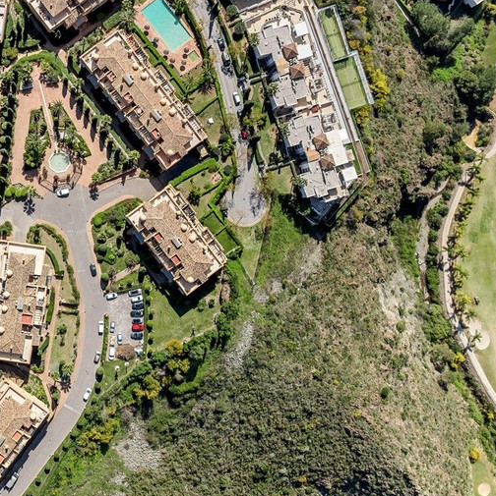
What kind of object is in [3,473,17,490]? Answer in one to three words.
vehicle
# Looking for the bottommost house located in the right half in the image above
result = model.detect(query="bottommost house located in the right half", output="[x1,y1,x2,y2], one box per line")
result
[293,151,366,223]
